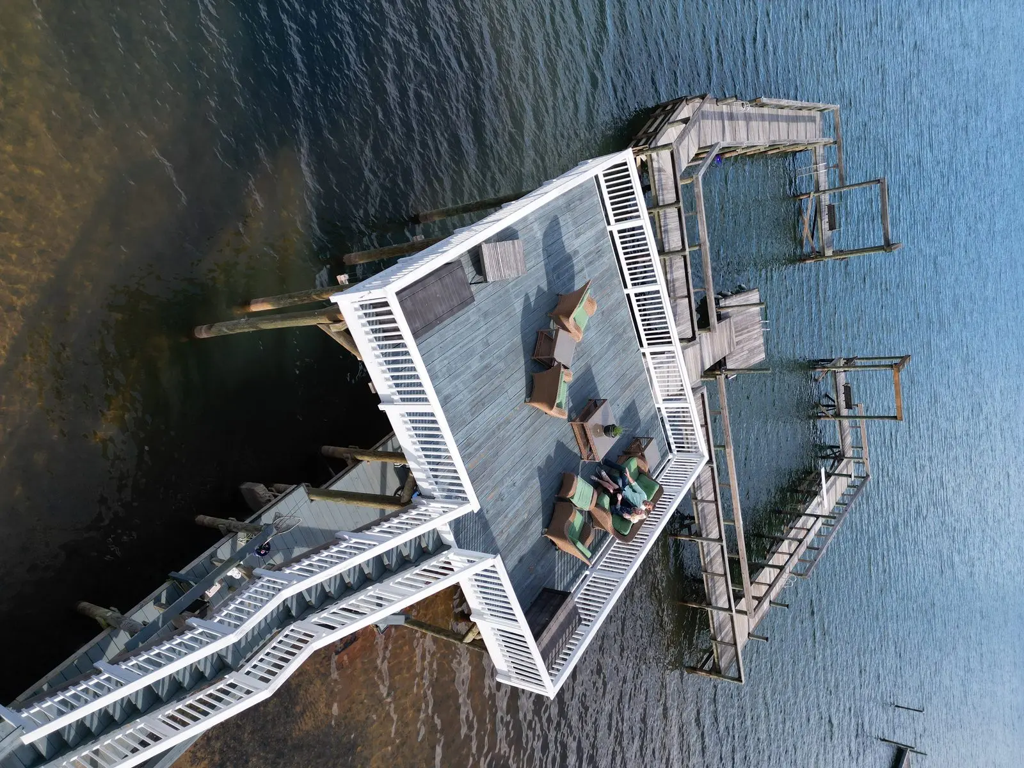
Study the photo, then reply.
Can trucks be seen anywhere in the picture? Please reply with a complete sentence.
No, the photo shows no truck.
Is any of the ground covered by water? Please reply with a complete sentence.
Yes, water shows up in the scene.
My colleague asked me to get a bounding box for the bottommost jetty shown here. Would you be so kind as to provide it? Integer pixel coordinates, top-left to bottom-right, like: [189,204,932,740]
[890,748,912,768]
